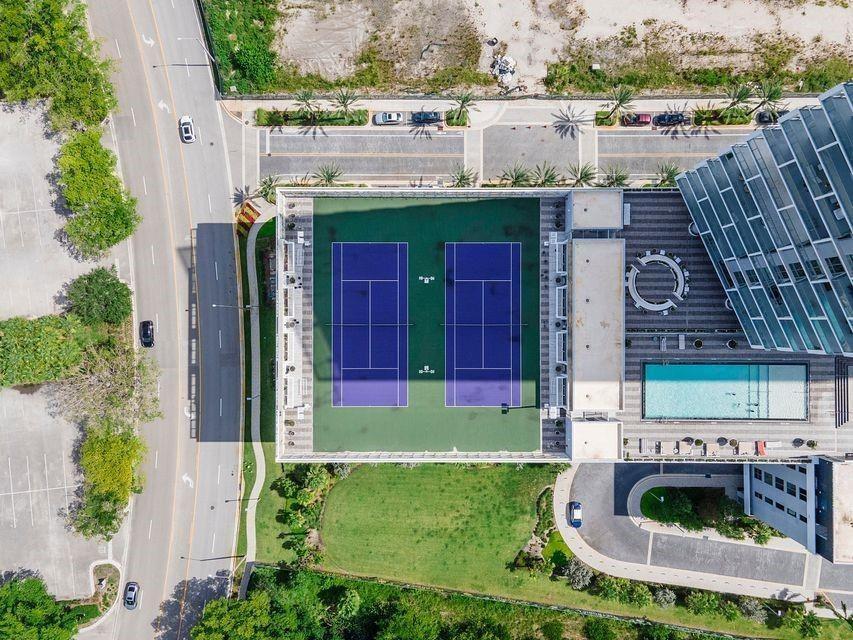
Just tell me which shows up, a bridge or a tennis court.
tennis court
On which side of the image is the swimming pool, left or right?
right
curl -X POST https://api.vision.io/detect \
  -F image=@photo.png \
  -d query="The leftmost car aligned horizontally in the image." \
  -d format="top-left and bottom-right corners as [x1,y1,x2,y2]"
[374,112,403,125]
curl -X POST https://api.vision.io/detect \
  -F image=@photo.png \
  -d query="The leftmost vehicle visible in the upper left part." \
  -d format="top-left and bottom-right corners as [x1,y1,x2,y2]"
[180,116,196,144]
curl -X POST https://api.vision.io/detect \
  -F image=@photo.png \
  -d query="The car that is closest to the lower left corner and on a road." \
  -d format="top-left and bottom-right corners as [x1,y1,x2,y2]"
[124,580,140,609]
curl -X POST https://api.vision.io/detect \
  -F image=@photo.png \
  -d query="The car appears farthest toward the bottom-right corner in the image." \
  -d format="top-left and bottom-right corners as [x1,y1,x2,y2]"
[569,501,582,526]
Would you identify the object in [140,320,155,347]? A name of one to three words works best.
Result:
car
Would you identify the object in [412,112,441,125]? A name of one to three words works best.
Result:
vehicle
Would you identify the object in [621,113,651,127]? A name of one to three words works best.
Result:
vehicle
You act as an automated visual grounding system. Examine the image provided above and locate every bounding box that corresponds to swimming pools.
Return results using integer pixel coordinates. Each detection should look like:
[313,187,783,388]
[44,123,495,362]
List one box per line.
[642,361,810,423]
